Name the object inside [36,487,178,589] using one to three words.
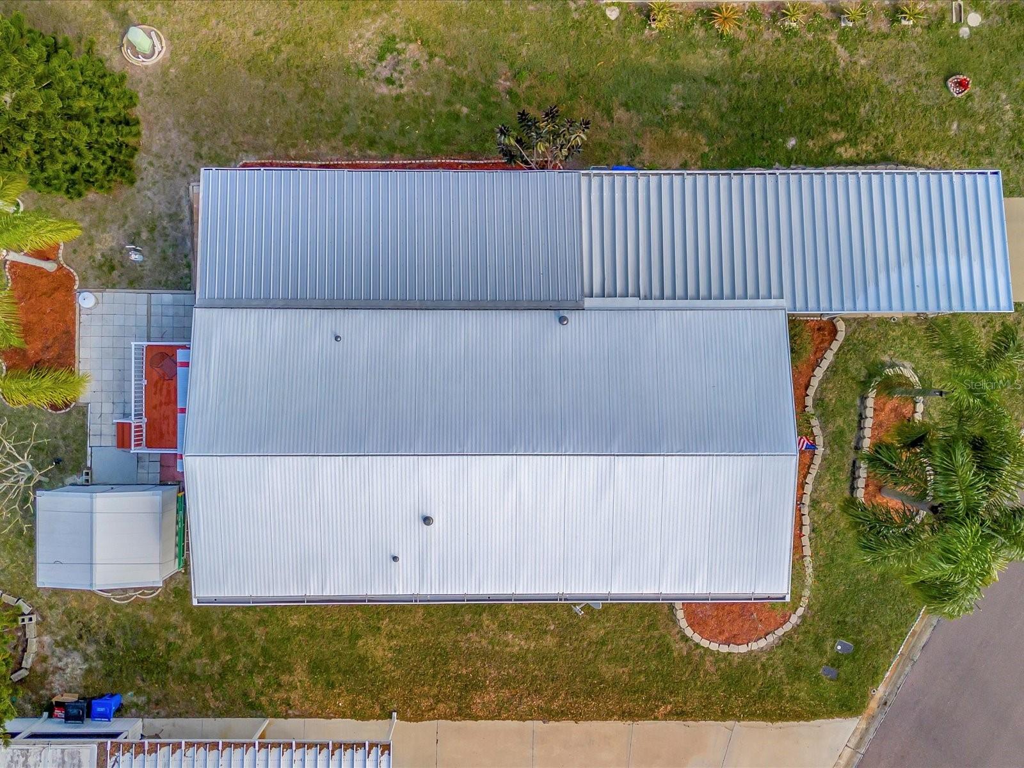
shed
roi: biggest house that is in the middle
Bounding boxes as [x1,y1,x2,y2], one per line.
[176,298,799,603]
